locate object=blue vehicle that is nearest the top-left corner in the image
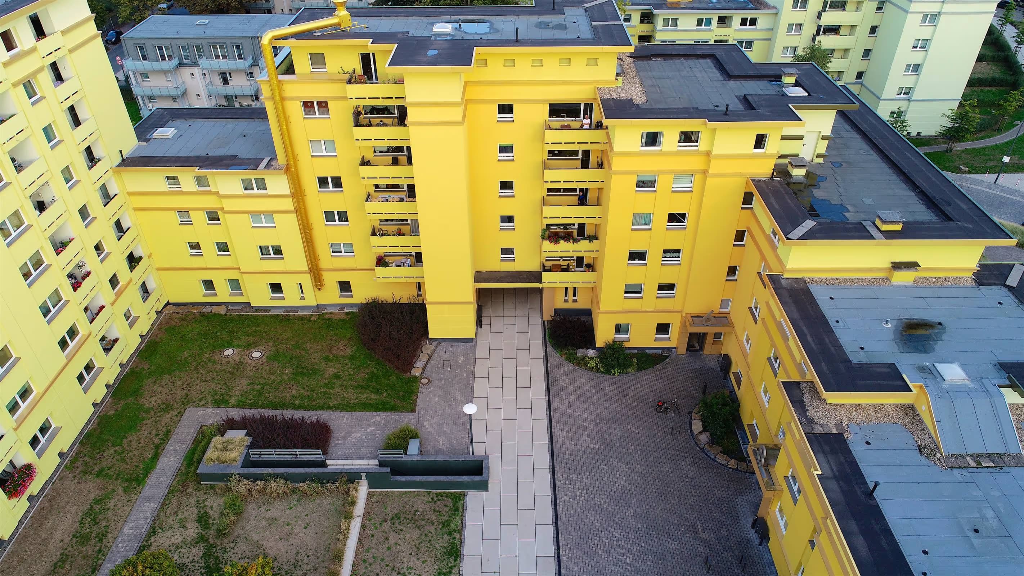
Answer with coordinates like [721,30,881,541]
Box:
[104,27,121,40]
